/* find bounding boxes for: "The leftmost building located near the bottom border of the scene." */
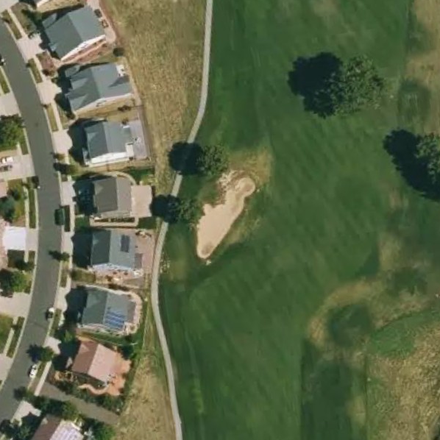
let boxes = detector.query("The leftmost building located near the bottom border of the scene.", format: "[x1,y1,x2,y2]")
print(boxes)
[29,409,90,440]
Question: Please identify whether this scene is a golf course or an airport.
golf course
